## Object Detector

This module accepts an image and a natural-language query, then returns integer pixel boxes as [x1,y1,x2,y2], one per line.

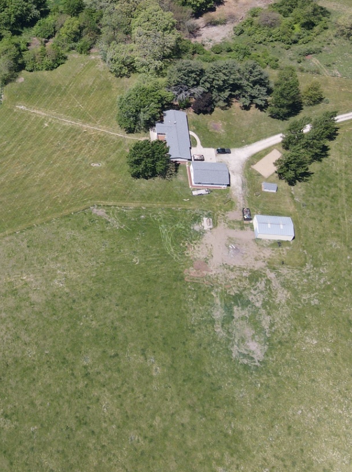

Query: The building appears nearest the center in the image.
[190,161,231,188]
